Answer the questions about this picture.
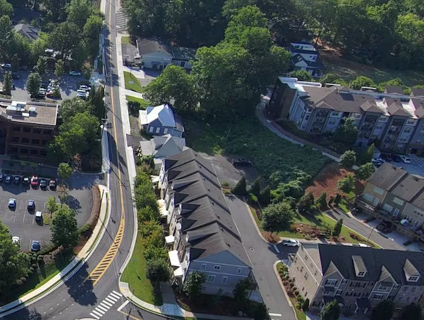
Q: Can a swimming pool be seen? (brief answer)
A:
No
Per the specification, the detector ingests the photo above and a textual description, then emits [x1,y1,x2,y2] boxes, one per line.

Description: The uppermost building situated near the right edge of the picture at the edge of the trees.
[269,77,424,162]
